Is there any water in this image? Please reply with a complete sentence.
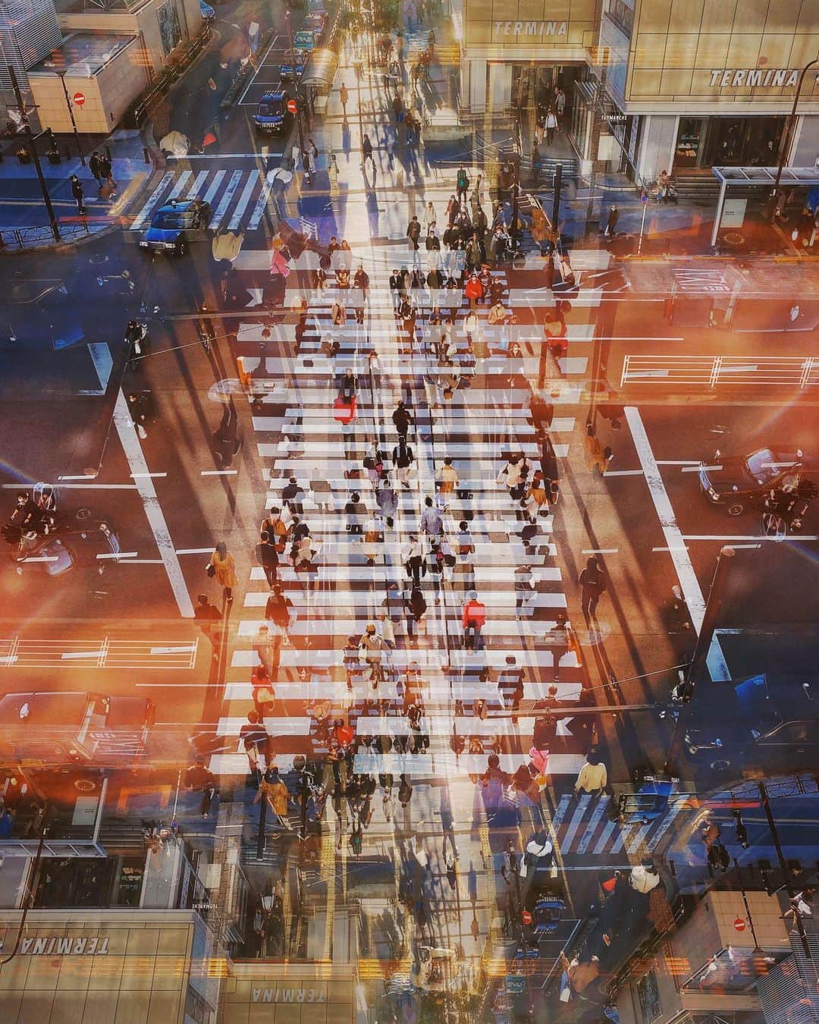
No, no water is visible.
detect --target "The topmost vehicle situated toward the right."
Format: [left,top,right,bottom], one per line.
[673,239,819,327]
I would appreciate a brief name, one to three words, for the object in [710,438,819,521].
car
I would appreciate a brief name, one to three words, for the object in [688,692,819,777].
car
